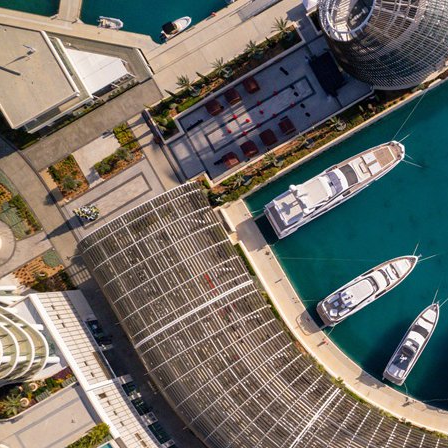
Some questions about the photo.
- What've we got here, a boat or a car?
boat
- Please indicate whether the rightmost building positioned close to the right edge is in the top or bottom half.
top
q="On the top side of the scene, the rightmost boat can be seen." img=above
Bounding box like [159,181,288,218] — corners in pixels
[248,87,430,246]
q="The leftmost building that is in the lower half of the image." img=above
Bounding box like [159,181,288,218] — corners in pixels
[0,305,55,390]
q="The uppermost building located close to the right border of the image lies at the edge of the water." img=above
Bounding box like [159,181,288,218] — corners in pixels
[316,0,448,89]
